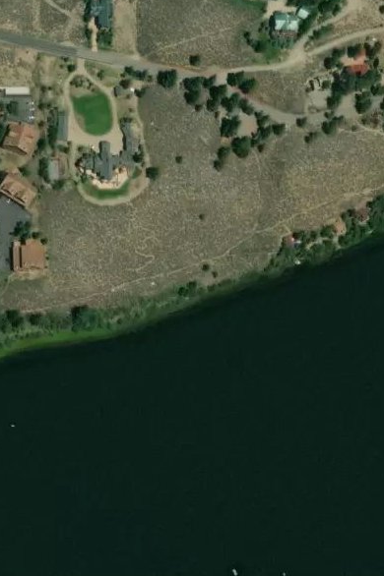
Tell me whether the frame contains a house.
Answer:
Yes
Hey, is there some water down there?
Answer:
Yes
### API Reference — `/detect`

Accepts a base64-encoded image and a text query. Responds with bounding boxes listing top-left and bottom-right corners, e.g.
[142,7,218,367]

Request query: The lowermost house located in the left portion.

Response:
[13,238,44,276]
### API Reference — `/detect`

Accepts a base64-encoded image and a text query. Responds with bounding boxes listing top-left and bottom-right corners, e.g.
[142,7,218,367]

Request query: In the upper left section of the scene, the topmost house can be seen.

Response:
[90,0,111,30]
